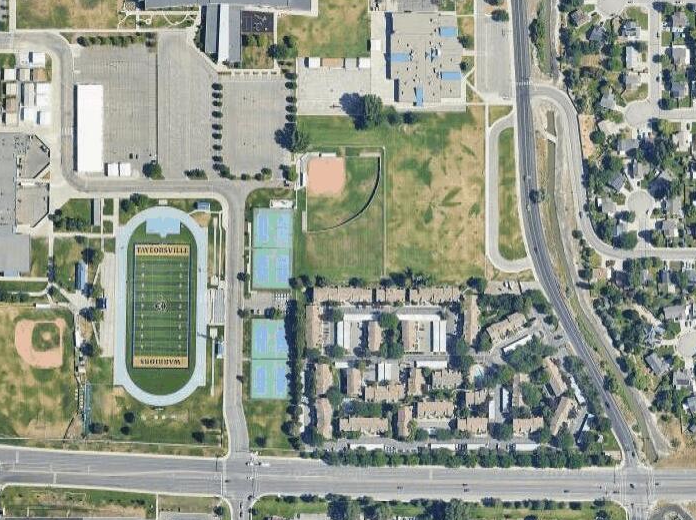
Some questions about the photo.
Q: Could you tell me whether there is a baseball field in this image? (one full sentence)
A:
Yes, the image includes a baseball field.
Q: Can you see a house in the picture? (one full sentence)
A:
Yes, the photo shows a house.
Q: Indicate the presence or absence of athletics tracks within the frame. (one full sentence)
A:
Yes, this view includes an athletics track.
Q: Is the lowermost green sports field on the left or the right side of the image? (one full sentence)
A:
It is on the left.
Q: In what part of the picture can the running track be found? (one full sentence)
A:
Look in the left portion of the view to spot the running track.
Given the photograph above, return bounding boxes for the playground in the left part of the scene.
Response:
[241,11,273,32]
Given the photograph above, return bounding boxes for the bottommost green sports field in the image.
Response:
[126,222,196,395]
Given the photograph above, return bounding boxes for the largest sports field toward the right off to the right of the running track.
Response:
[386,112,484,281]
